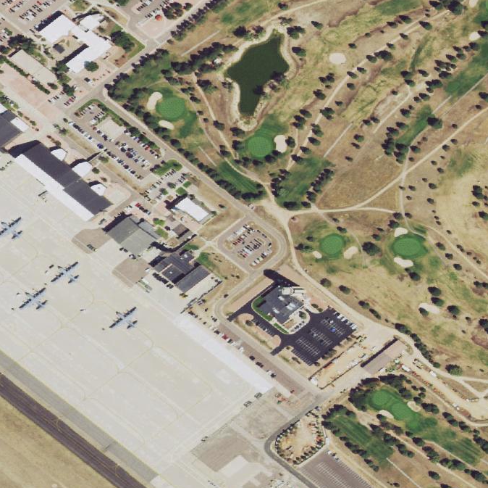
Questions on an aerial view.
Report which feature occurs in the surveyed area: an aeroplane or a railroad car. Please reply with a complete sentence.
Looking from above, you can make out an aeroplane.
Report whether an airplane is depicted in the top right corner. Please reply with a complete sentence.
No, no airplane appears in the top right corner.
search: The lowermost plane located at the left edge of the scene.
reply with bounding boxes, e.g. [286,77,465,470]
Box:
[20,289,50,311]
